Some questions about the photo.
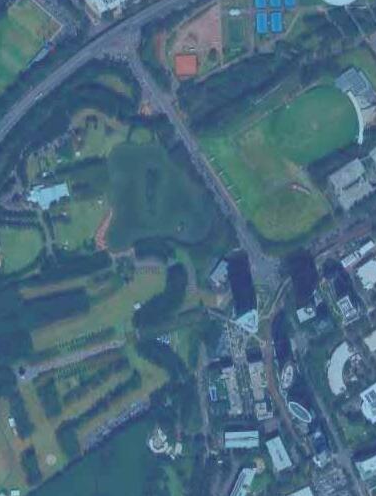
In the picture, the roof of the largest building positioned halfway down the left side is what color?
blue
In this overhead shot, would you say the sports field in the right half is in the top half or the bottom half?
top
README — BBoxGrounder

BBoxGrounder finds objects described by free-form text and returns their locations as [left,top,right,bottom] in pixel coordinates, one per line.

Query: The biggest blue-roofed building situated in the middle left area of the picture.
[28,183,69,209]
